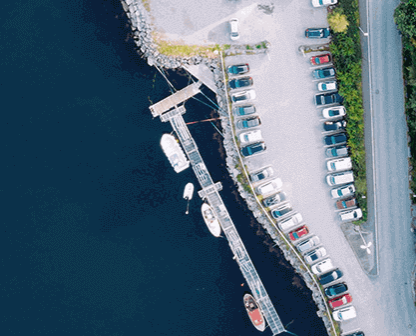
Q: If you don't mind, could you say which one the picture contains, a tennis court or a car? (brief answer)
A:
car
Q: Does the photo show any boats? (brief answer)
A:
Yes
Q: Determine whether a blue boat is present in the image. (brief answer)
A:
No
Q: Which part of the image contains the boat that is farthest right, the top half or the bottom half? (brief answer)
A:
bottom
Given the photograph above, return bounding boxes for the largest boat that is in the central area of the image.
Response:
[164,135,190,176]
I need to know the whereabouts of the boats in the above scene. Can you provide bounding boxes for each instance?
[184,184,194,205]
[200,202,220,237]
[241,292,264,334]
[164,135,190,176]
